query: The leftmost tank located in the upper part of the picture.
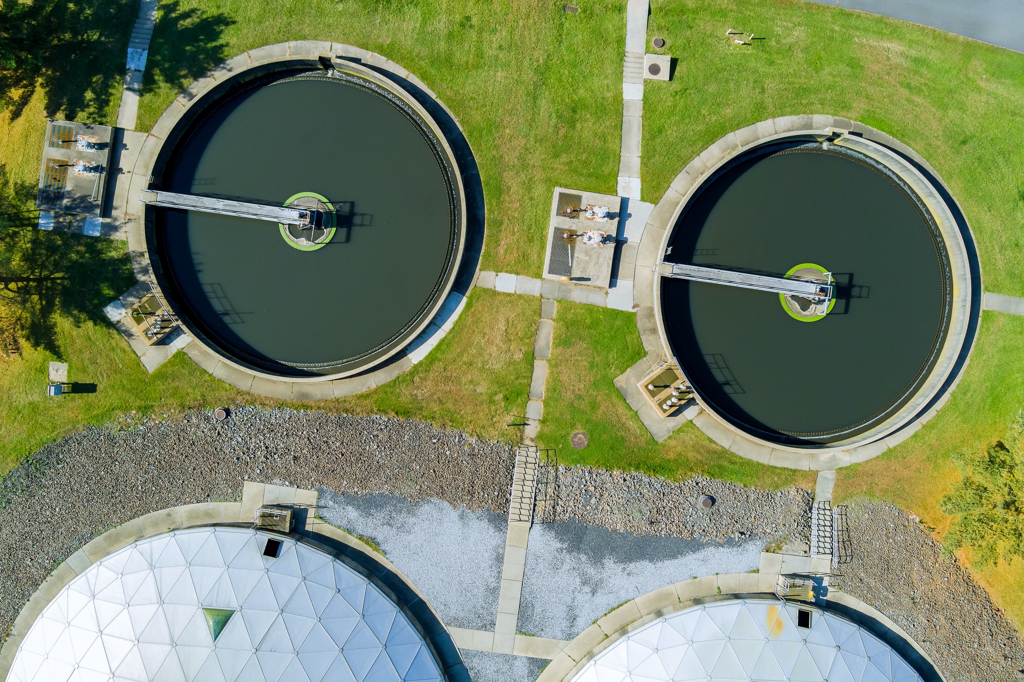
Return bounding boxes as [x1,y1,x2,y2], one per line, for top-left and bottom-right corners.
[140,49,466,381]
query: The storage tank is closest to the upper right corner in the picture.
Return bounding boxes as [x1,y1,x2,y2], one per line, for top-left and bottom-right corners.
[641,125,973,452]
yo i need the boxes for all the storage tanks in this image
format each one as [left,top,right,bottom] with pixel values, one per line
[0,524,446,682]
[565,594,928,682]
[140,49,466,381]
[641,125,973,452]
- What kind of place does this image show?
industrial area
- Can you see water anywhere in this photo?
Yes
